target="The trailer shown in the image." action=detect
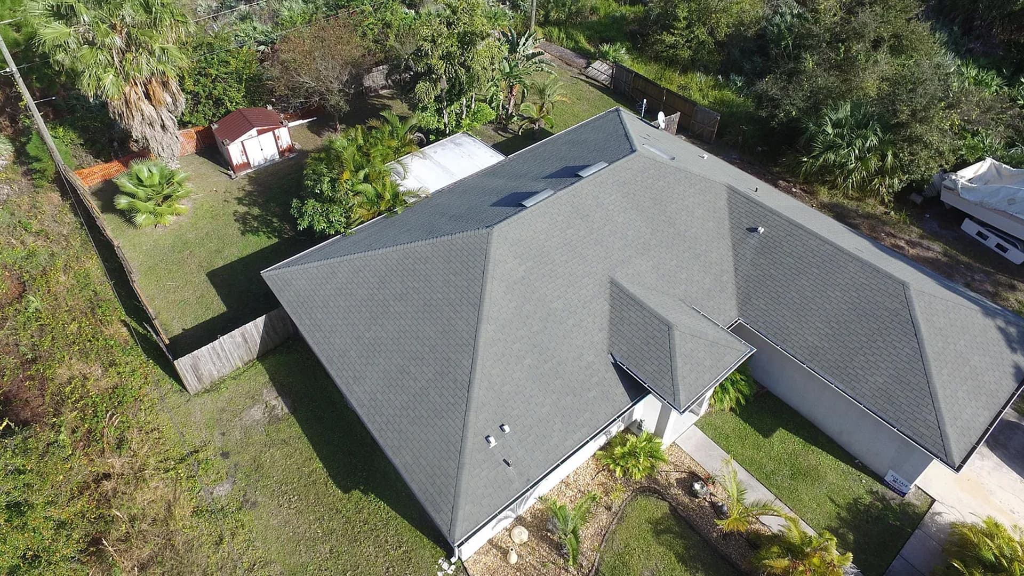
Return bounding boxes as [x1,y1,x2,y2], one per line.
[941,196,1024,258]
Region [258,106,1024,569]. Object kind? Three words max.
house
